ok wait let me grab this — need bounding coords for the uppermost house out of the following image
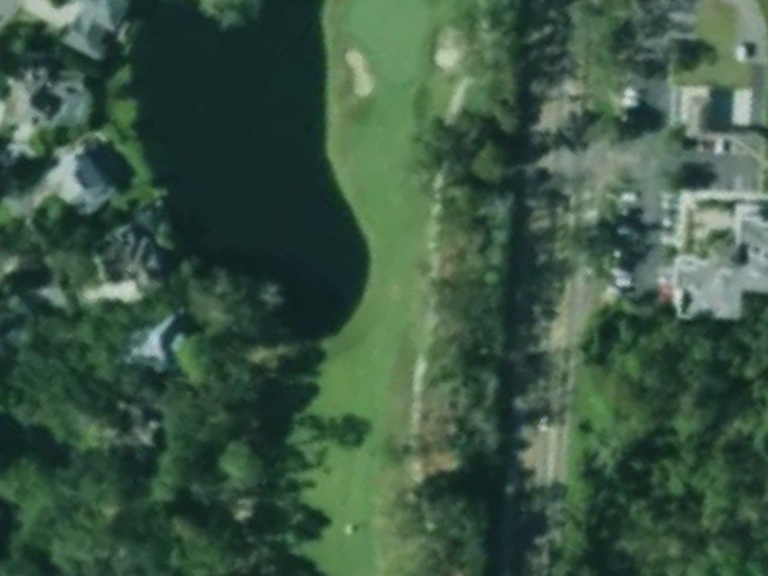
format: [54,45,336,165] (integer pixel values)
[62,0,130,54]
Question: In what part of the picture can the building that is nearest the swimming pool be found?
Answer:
top right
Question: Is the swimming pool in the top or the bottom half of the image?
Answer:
top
